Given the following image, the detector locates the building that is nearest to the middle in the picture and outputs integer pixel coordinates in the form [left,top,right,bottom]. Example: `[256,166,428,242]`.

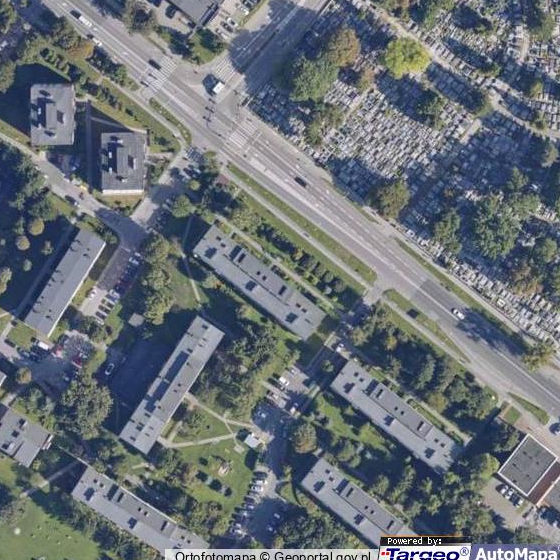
[192,224,325,343]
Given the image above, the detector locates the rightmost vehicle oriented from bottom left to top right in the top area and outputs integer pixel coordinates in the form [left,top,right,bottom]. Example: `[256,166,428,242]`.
[210,80,225,94]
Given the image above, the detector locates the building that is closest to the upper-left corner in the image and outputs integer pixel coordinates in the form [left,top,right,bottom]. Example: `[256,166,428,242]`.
[30,84,76,149]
